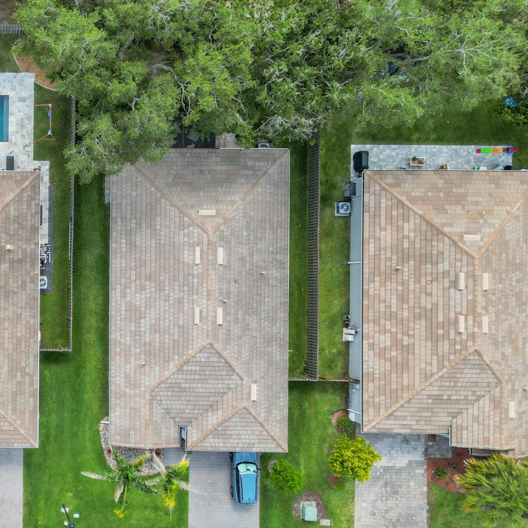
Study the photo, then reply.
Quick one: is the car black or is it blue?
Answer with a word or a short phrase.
blue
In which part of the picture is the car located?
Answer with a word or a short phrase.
bottom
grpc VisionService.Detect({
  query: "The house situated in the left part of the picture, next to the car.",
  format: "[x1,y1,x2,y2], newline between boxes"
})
[103,147,294,453]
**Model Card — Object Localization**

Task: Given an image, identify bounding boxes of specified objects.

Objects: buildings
[0,170,42,449]
[103,147,294,453]
[342,168,528,456]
